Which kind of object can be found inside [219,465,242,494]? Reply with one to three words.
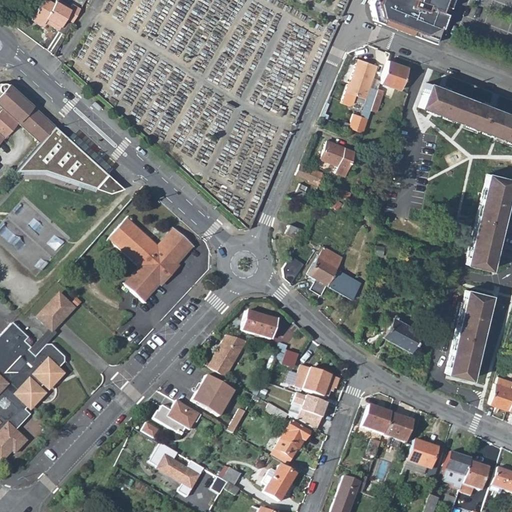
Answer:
shed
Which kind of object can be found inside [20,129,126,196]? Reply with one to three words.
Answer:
building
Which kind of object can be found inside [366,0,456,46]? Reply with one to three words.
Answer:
building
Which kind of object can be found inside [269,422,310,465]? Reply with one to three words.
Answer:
house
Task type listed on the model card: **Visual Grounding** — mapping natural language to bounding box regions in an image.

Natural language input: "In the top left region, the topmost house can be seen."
[34,0,85,33]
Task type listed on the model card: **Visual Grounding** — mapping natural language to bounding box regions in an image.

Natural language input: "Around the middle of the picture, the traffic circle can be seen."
[203,222,288,312]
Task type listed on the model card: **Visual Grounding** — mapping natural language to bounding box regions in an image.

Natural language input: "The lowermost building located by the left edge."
[0,323,67,460]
